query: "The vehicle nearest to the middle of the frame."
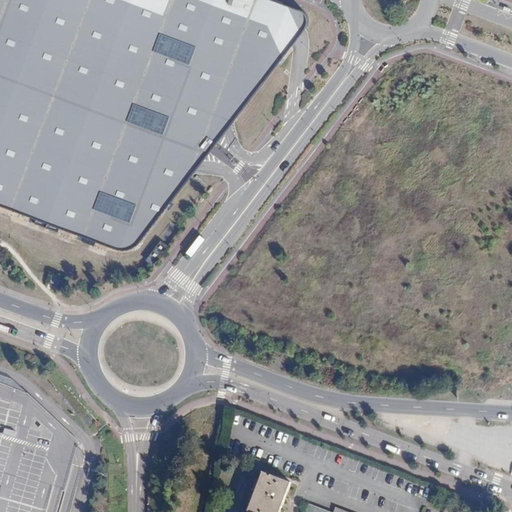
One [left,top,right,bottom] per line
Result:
[186,236,204,258]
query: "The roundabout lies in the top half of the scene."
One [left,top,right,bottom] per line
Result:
[344,0,458,65]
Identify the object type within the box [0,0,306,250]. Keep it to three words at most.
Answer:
warehouse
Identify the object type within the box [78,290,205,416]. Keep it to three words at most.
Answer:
roundabout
